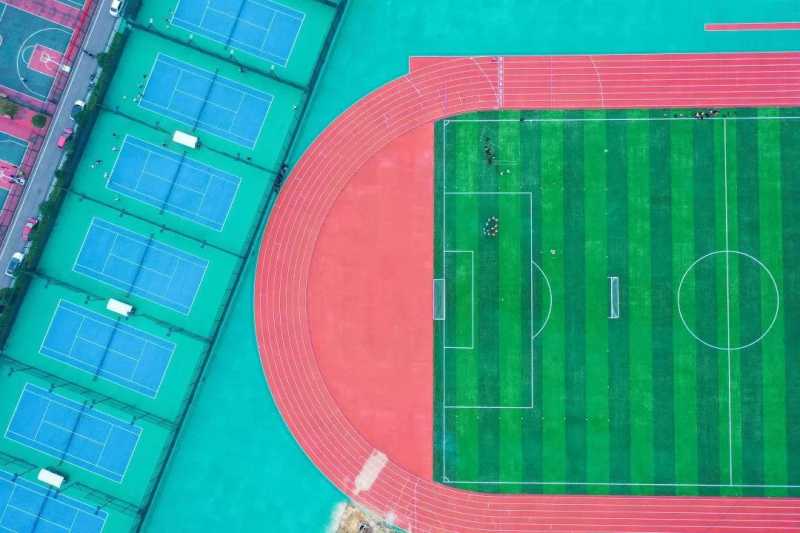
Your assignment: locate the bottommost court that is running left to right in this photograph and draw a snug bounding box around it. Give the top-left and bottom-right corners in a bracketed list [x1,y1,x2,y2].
[0,454,145,533]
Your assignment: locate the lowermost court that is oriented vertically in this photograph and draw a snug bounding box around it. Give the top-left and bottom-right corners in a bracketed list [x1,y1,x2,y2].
[0,131,30,216]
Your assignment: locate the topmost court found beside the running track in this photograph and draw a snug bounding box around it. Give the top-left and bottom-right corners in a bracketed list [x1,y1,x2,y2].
[130,0,335,89]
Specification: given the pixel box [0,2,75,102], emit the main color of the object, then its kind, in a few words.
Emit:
blue basketball court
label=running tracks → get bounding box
[253,52,800,533]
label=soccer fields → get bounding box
[433,106,800,499]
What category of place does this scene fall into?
sports ground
